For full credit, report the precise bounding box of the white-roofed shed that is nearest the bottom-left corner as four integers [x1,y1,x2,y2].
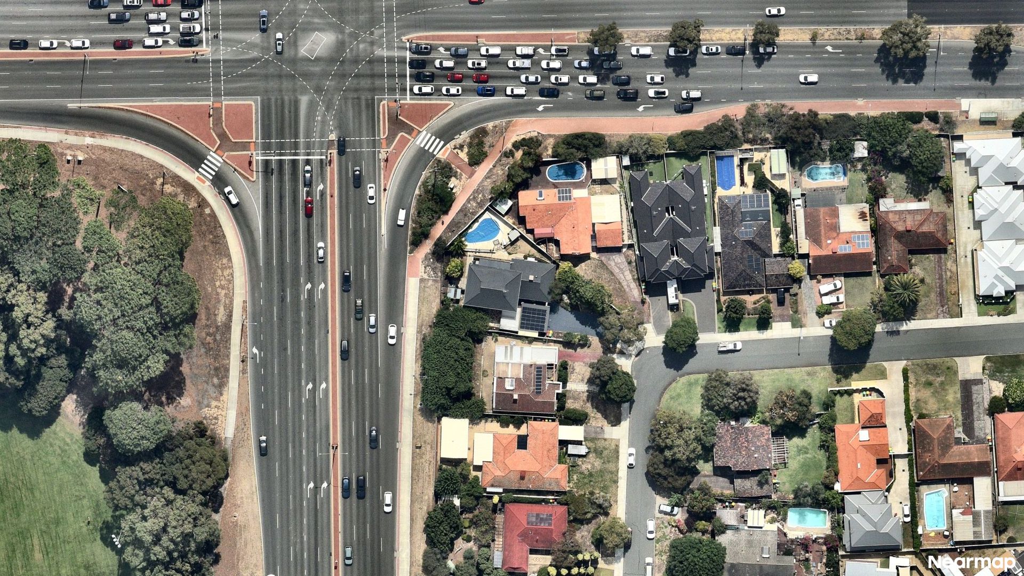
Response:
[440,417,468,458]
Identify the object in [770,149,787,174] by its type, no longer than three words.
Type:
shed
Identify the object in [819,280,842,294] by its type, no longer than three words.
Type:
car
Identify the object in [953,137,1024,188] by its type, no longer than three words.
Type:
house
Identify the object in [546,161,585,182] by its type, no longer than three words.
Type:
swimming pool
